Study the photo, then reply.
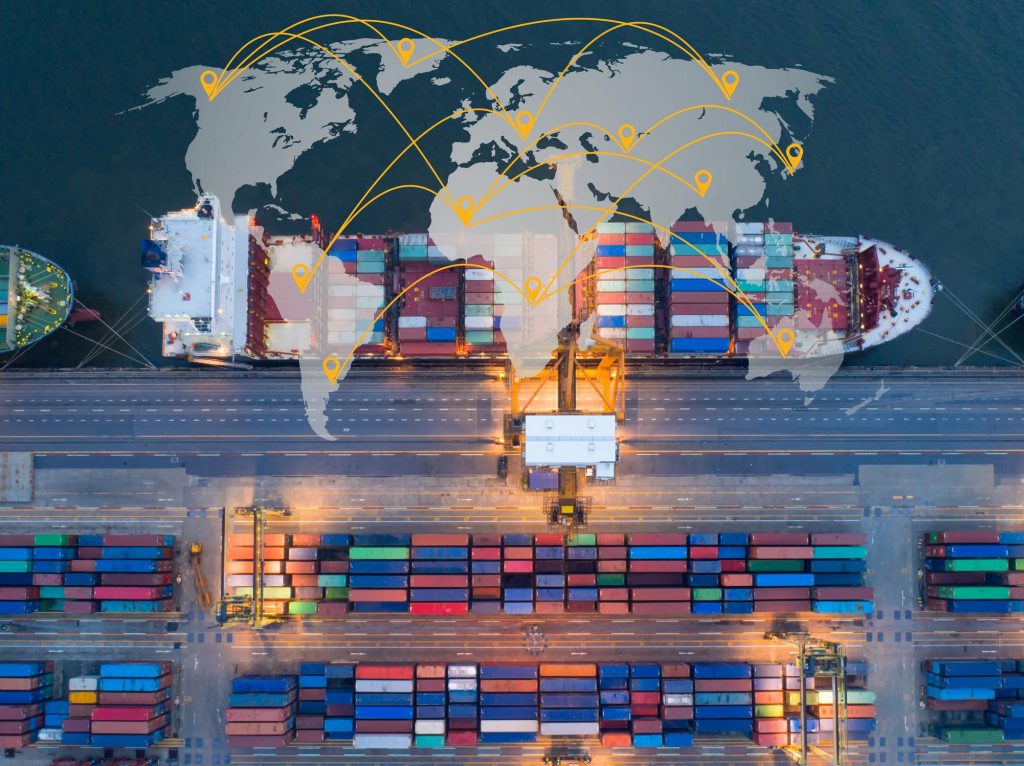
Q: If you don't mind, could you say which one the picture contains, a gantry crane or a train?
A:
gantry crane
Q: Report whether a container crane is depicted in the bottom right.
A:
Yes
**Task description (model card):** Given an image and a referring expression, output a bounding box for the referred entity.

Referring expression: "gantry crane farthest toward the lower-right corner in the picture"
[759,632,845,766]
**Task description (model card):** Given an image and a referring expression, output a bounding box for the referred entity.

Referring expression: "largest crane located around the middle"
[495,155,622,536]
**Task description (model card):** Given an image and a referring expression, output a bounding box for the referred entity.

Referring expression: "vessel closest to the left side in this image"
[0,244,105,352]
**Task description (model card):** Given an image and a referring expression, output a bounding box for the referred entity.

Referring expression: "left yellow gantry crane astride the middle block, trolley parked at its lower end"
[218,500,287,632]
